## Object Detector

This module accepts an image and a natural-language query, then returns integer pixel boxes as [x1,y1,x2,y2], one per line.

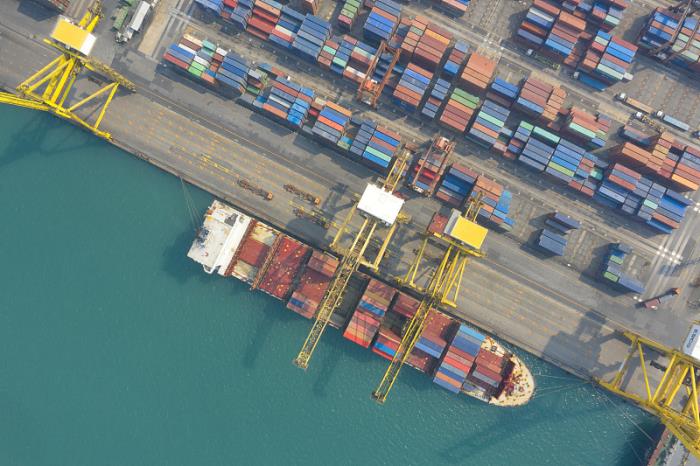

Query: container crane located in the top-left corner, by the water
[0,0,132,134]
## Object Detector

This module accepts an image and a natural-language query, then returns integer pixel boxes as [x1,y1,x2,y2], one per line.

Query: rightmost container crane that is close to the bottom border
[600,323,700,454]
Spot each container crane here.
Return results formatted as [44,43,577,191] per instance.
[0,0,132,134]
[600,323,700,454]
[401,135,455,200]
[352,40,403,117]
[633,0,700,72]
[375,192,492,407]
[295,152,414,368]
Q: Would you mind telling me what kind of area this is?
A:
port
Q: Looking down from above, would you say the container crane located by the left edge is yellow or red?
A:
yellow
